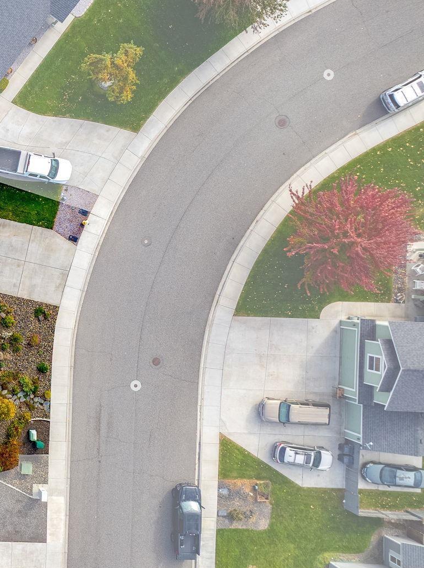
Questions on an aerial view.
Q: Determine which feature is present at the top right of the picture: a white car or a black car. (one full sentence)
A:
What appears at the top right of the picture is a white car.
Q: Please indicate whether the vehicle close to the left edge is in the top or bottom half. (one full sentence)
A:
It is in the top half that the vehicle close to the left edge appears.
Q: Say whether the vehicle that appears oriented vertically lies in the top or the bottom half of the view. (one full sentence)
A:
The vehicle that appears oriented vertically sits in the bottom half of the picture.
